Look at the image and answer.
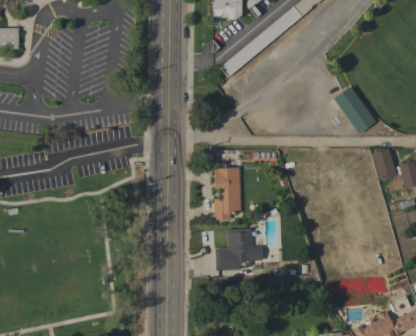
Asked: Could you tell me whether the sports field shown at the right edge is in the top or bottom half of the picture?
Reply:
top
